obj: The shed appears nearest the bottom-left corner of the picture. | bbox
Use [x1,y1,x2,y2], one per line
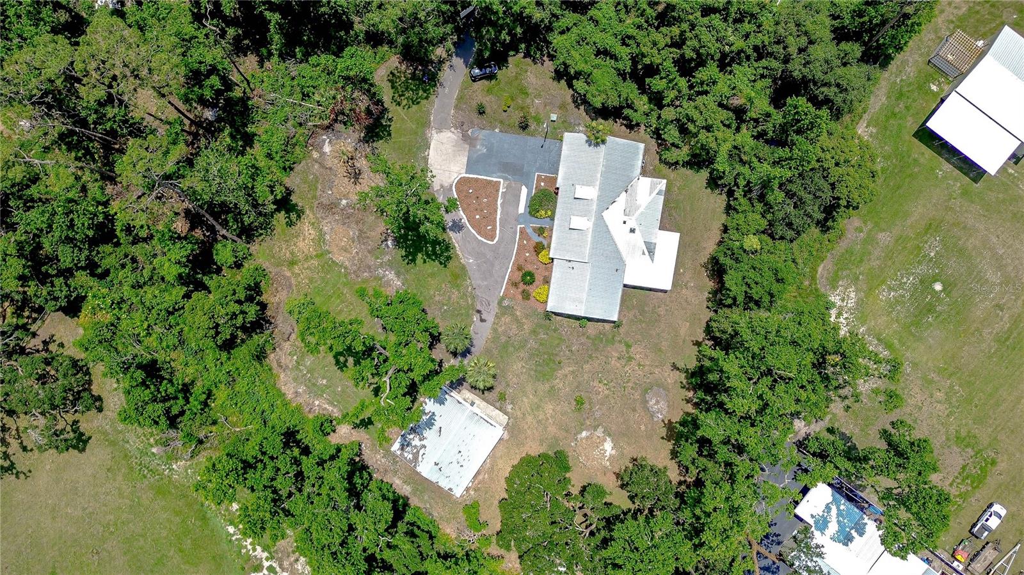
[391,385,506,498]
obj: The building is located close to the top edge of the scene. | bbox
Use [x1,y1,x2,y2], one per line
[910,25,1024,175]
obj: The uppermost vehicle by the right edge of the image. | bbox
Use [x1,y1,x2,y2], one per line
[972,502,1005,541]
